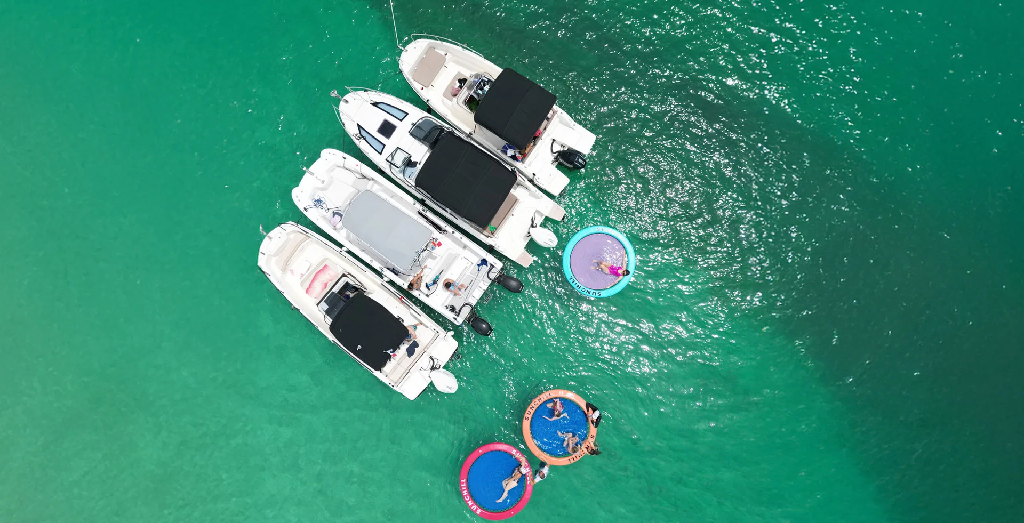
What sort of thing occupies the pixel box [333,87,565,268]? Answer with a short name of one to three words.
boat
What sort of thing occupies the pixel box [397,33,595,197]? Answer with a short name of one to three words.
boat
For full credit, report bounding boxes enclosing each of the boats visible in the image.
[397,33,595,197]
[333,87,565,268]
[292,148,525,335]
[258,221,461,400]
